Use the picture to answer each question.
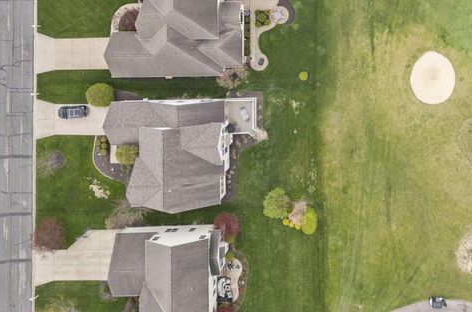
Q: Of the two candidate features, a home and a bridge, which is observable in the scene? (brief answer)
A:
home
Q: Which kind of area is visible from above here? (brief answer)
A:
golf course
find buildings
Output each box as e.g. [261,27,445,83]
[104,0,245,81]
[103,98,231,214]
[108,225,234,312]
